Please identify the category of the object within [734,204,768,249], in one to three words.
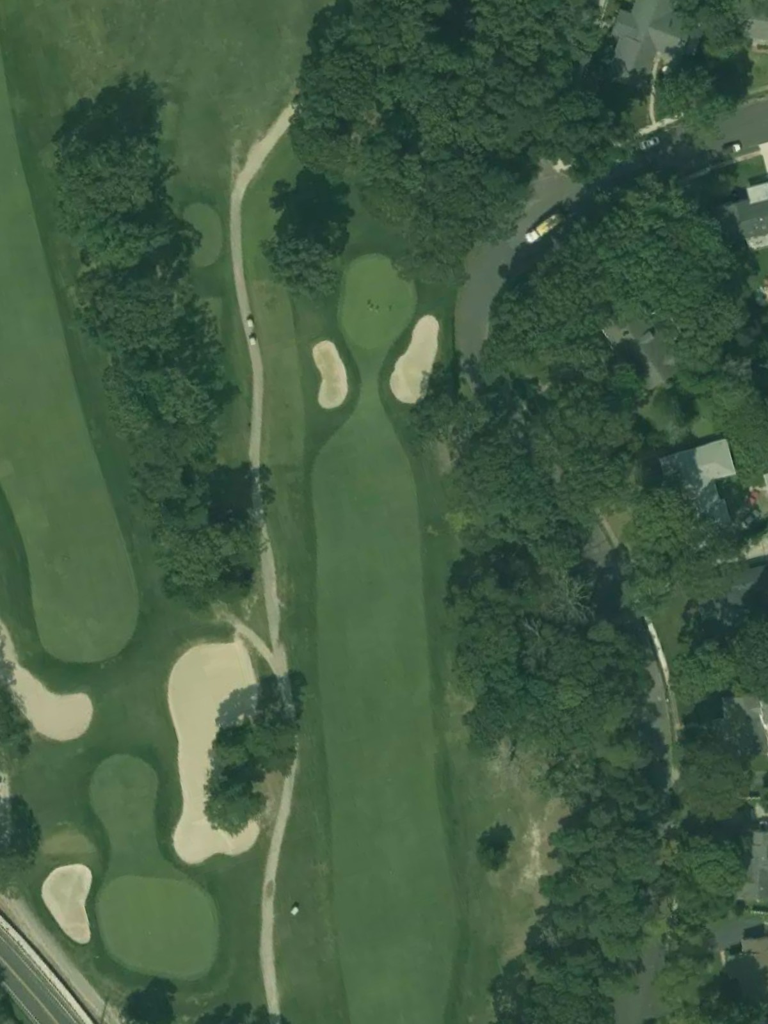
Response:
house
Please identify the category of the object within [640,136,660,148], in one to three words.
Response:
vehicle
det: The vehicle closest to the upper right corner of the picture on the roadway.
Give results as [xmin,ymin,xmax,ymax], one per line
[724,141,743,154]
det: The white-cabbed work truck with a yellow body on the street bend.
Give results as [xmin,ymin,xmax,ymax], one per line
[526,214,562,241]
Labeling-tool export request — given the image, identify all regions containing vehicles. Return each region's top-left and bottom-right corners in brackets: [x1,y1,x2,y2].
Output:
[247,319,254,329]
[291,904,299,914]
[640,136,660,148]
[250,336,257,347]
[724,141,743,154]
[526,214,562,241]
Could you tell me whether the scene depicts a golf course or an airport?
golf course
